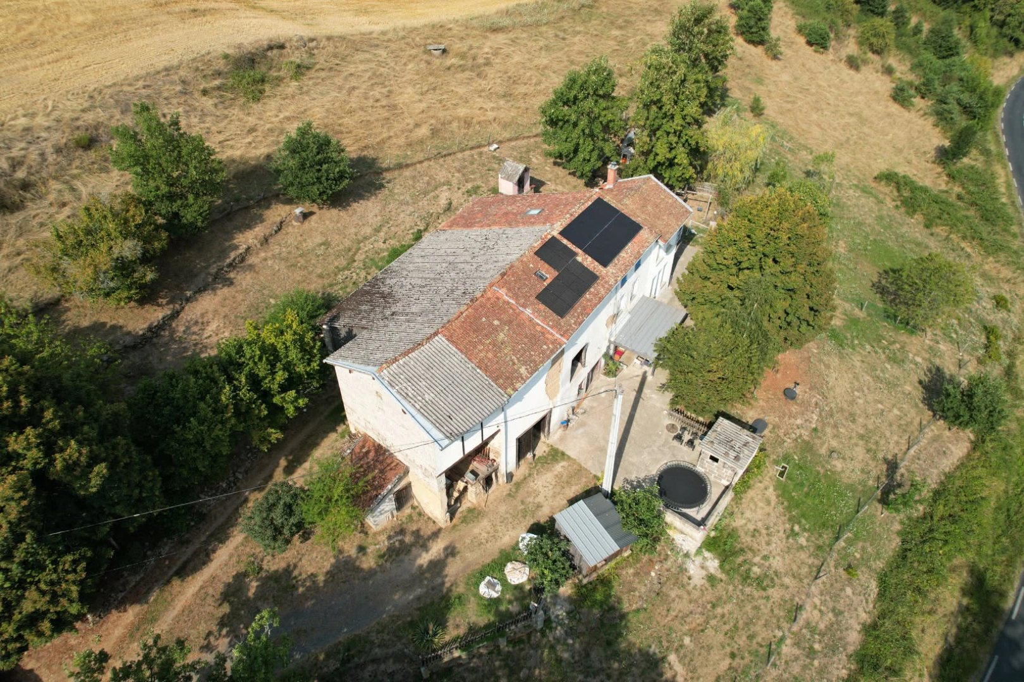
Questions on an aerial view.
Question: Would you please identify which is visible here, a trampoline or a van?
trampoline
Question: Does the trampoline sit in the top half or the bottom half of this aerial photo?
bottom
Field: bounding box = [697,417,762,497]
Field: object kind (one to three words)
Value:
shed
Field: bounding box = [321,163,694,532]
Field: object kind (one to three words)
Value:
house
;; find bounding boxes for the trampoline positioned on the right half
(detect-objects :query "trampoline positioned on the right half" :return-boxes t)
[655,463,712,516]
